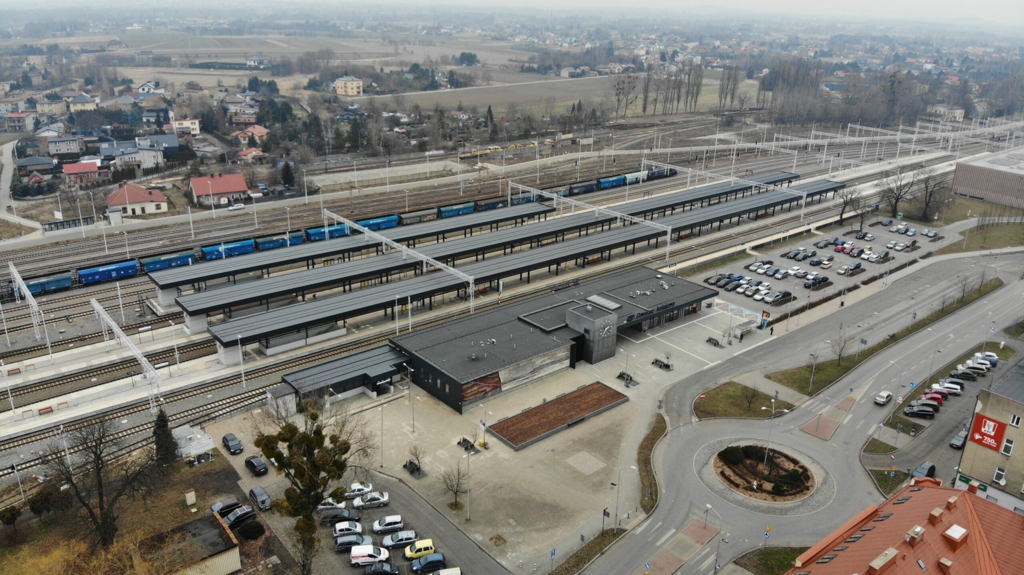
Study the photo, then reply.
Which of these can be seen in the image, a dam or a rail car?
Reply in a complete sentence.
I can see a rail car in this picture.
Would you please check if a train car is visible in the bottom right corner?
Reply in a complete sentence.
No, I see no train car in the bottom right corner.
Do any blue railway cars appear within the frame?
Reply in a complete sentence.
Yes, I can see a blue railway car in this picture.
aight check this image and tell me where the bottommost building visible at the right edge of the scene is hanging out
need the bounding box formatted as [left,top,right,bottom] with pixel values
[787,473,1024,575]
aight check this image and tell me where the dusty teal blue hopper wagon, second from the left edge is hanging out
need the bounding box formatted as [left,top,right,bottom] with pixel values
[1,269,77,298]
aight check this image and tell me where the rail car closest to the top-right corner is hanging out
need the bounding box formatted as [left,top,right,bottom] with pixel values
[646,168,674,180]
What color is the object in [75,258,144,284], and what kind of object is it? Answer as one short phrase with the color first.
blue rail car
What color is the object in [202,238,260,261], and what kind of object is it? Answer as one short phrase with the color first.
blue rail car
